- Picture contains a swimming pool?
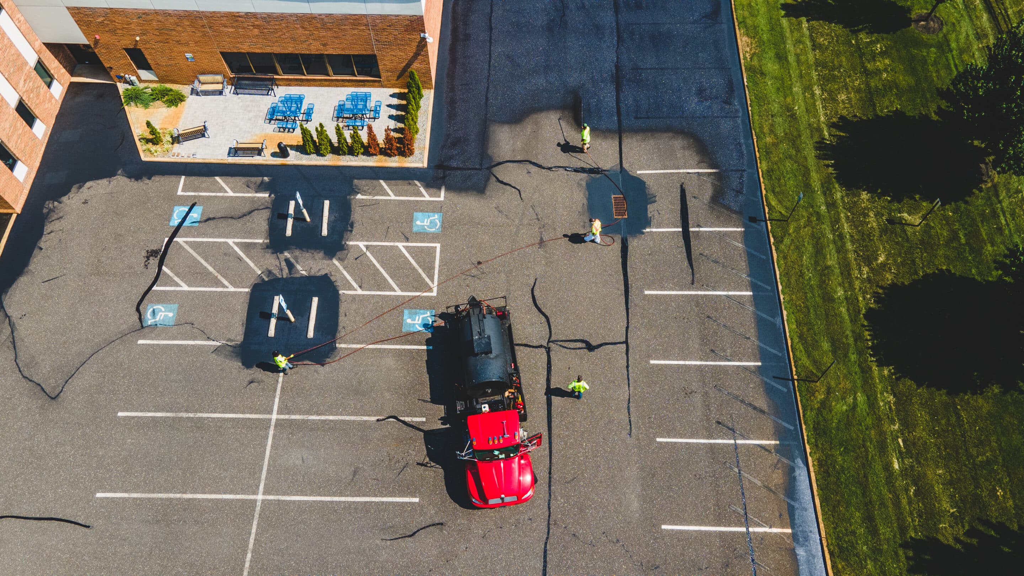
No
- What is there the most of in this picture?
paved ground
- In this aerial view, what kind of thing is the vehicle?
truck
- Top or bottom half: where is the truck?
bottom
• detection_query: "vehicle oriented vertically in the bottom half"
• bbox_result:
[445,296,545,509]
